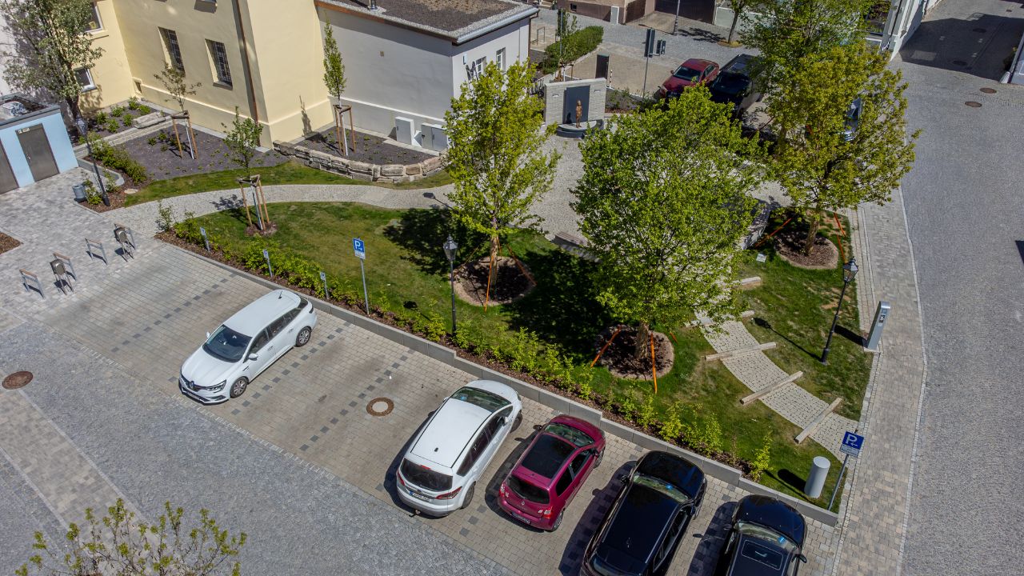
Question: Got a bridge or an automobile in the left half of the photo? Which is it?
automobile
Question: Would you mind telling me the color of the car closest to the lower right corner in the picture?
black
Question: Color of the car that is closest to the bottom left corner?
white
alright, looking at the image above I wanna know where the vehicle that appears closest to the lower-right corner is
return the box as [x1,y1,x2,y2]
[698,491,810,576]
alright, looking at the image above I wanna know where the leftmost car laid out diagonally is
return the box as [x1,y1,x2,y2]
[177,293,317,404]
